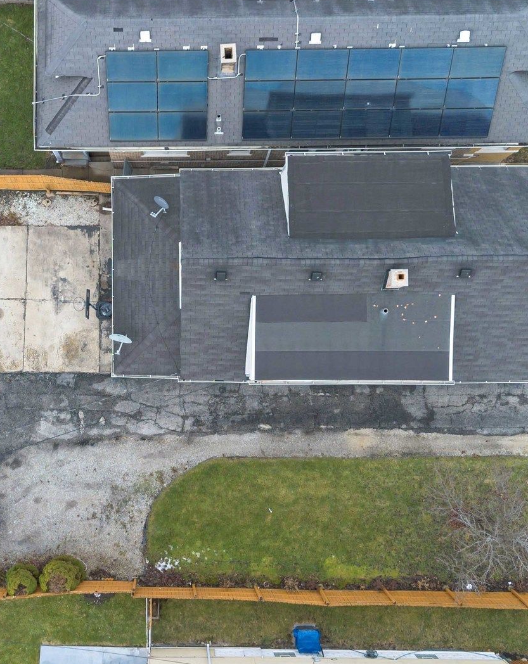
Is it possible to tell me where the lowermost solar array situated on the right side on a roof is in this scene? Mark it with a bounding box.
[239,39,505,140]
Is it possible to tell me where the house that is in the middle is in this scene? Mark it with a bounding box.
[105,152,528,386]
